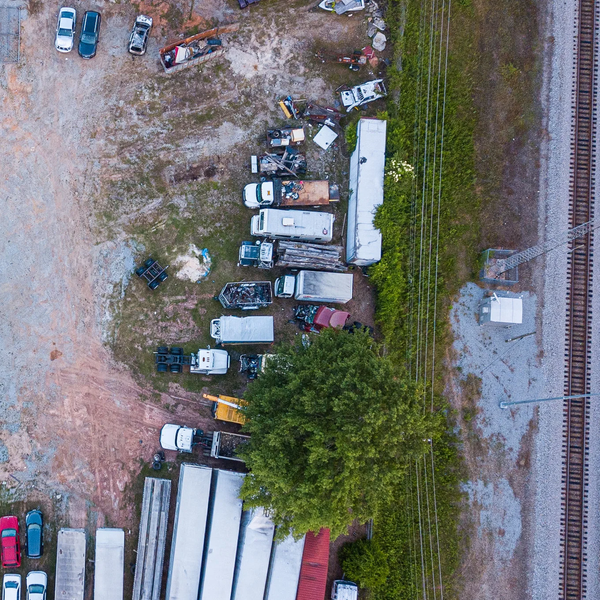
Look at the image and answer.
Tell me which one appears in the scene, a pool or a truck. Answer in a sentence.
Looking from above, you can make out a truck.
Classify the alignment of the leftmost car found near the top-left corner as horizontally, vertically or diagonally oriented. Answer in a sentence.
The leftmost car found near the top-left corner is oriented vertically.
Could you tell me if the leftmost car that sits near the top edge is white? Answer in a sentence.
Yes, the leftmost car that sits near the top edge is white.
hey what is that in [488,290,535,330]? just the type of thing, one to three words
shed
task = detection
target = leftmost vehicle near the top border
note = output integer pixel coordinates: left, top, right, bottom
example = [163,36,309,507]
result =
[55,5,76,54]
